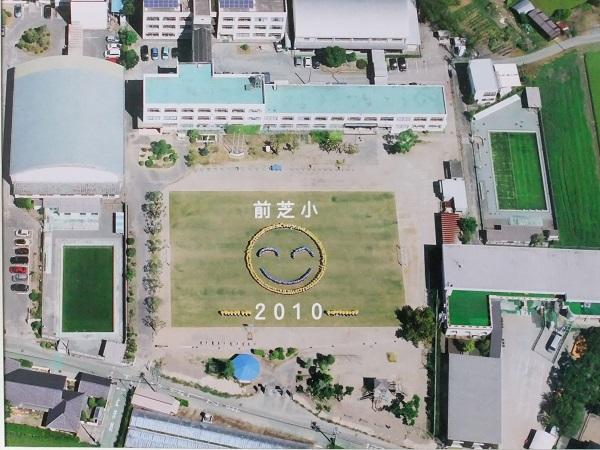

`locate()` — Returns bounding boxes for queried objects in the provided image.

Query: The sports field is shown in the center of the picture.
[169,191,405,327]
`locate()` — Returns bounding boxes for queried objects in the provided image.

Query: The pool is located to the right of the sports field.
[472,104,554,230]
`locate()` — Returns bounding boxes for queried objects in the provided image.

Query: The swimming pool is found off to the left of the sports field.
[45,232,124,347]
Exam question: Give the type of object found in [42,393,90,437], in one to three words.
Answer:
house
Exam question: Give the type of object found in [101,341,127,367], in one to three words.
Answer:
shed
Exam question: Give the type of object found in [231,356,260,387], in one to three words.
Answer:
building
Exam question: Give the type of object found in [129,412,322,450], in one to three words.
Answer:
greenhouse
